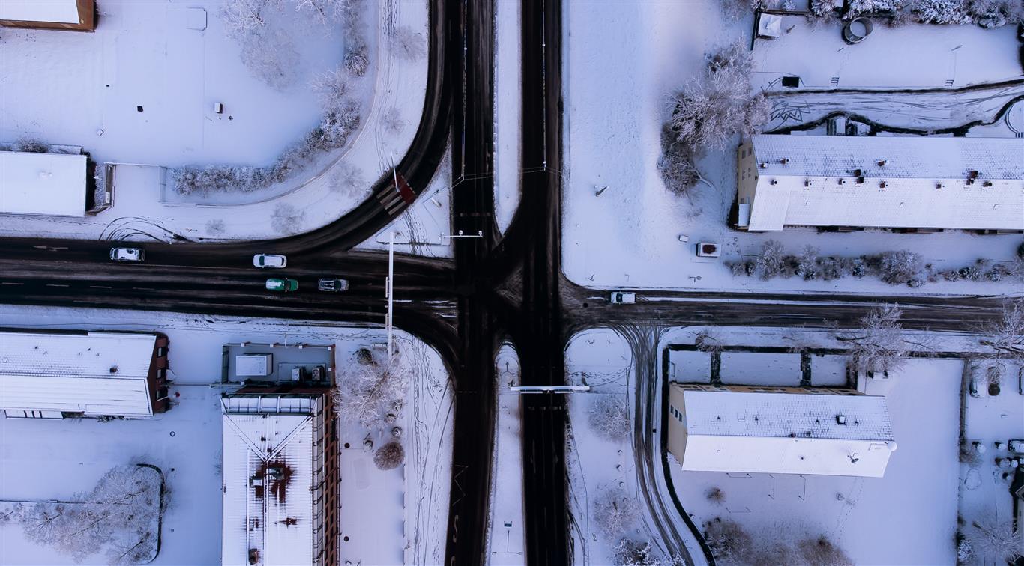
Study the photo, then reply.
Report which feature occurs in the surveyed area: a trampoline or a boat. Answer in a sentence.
I can see a trampoline in this picture.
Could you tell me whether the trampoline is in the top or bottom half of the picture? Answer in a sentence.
You can find the trampoline in the top half.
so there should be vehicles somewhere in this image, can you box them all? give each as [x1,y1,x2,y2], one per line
[265,277,298,293]
[609,290,636,306]
[317,277,349,293]
[969,369,984,398]
[986,371,1004,401]
[253,253,287,269]
[110,246,144,263]
[1003,440,1024,454]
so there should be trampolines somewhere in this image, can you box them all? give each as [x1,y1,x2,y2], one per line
[841,14,873,42]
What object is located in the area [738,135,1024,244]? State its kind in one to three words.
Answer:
house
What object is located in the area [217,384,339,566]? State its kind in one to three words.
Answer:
building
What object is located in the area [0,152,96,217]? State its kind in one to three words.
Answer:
building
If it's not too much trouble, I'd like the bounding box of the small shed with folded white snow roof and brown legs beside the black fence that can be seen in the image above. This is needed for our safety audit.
[759,12,784,38]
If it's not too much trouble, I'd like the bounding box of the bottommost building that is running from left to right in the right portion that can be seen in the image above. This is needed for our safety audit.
[669,384,897,475]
